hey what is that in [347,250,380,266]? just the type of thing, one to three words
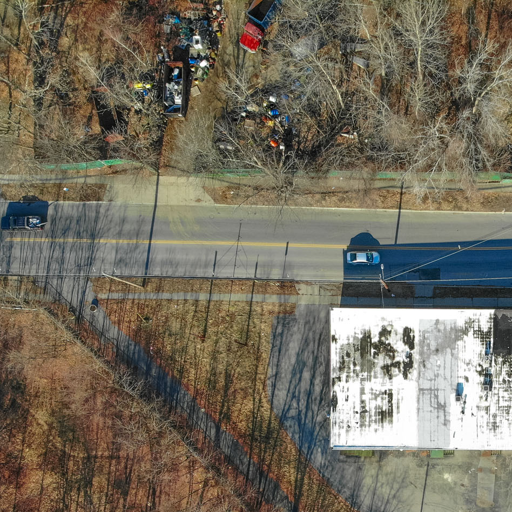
car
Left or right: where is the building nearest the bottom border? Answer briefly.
right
